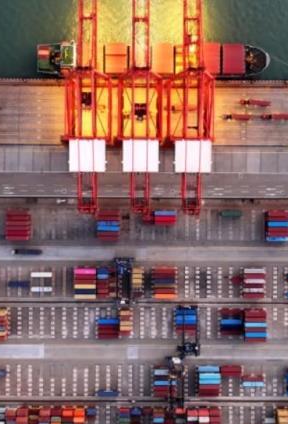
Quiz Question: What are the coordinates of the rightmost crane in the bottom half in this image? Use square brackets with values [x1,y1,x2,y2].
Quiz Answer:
[176,301,199,361]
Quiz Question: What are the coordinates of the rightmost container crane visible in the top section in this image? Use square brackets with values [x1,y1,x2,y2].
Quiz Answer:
[164,0,214,213]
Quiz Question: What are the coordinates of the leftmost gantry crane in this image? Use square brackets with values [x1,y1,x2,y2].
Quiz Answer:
[67,0,117,213]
